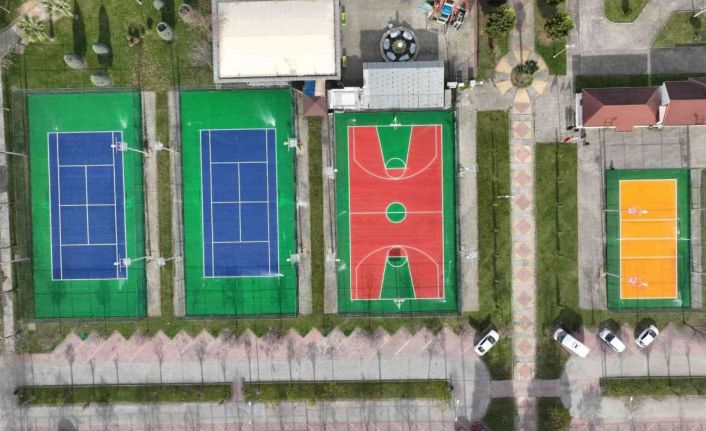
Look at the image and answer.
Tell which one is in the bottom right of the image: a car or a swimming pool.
car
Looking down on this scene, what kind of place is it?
sports ground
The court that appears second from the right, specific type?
basketball court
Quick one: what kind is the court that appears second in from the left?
tennis court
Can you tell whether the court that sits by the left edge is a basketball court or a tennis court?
tennis court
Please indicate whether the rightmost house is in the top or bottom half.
top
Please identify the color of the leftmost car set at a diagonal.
white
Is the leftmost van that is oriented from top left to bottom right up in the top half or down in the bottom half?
bottom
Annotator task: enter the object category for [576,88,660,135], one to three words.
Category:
house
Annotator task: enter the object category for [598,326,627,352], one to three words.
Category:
car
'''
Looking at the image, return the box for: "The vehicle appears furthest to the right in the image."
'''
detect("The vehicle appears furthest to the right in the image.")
[634,323,659,348]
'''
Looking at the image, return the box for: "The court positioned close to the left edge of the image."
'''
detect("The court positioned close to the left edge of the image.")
[27,92,148,319]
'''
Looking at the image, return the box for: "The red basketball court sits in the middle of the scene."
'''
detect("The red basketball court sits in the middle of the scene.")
[334,111,459,314]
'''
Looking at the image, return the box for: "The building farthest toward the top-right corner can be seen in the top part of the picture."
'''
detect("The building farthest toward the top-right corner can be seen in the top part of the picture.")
[654,76,706,130]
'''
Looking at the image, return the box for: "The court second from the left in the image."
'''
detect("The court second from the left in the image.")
[179,90,299,317]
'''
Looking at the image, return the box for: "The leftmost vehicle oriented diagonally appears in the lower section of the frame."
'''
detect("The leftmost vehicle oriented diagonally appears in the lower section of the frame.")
[472,330,499,357]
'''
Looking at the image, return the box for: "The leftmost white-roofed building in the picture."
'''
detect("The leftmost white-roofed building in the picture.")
[214,0,341,87]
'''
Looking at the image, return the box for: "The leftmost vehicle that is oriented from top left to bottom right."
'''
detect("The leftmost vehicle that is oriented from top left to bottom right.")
[553,326,592,359]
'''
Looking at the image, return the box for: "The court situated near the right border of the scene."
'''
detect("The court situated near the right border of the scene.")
[607,168,694,309]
